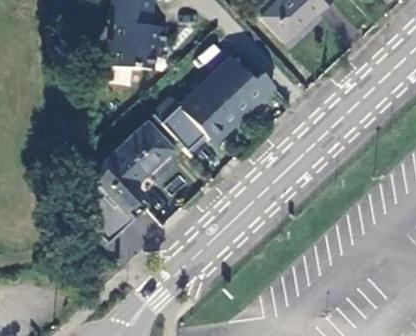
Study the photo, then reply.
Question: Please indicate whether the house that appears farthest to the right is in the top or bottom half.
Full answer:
The top half of the photo is where the house that appears farthest to the right is.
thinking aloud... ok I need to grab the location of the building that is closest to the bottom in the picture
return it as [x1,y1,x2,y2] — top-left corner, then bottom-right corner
[100,194,132,239]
